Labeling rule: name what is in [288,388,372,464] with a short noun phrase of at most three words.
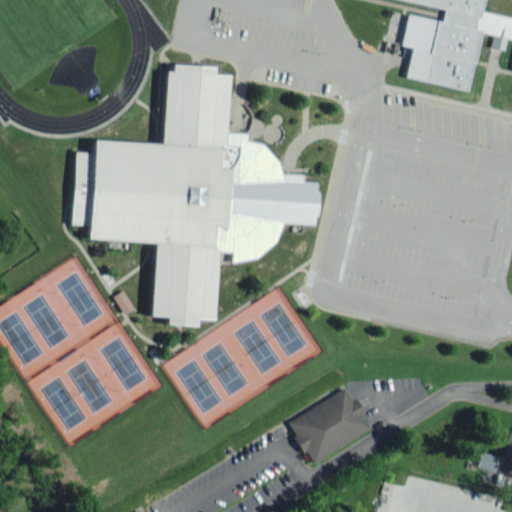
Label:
building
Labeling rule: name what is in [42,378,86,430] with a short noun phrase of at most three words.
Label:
tennis court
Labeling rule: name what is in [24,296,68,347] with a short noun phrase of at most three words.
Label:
tennis court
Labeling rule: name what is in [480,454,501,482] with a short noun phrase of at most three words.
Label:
house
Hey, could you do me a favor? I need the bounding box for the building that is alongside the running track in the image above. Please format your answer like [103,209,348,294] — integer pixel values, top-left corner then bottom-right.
[72,64,322,328]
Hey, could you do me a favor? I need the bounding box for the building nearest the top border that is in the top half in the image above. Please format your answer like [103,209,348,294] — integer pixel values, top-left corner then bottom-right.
[400,0,512,92]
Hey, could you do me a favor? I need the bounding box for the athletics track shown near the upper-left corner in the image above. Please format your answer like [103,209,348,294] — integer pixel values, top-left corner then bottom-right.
[0,0,168,134]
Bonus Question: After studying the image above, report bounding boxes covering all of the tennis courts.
[68,361,112,412]
[202,346,246,396]
[42,378,86,430]
[102,338,146,390]
[236,322,280,373]
[24,296,68,347]
[0,313,42,364]
[262,304,306,356]
[58,274,102,325]
[178,360,222,412]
